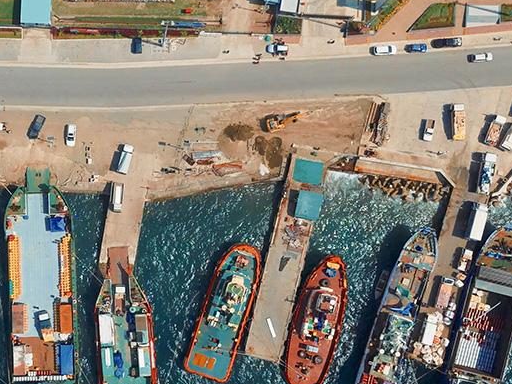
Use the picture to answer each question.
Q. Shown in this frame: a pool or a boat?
boat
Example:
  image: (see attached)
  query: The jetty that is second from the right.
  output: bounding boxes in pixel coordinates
[241,147,332,364]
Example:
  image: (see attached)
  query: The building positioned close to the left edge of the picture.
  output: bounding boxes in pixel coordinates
[21,0,52,29]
